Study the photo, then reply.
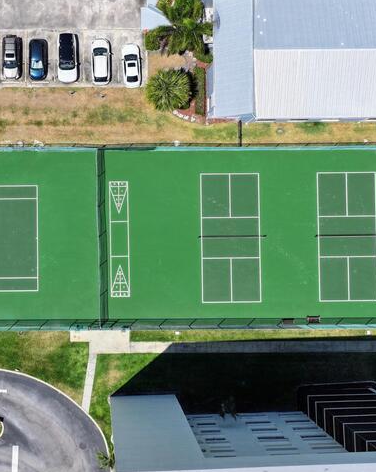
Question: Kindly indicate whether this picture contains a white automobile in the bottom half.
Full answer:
No, I see no white automobile in the bottom half.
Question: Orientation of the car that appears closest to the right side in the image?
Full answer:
Seen from above, the car that appears closest to the right side lies up and down.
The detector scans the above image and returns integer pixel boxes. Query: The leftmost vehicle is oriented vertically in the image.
[0,36,21,84]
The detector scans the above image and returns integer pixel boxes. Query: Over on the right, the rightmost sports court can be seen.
[317,172,376,301]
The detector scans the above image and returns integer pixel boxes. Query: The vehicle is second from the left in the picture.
[26,39,48,82]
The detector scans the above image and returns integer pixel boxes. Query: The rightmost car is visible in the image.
[120,44,141,90]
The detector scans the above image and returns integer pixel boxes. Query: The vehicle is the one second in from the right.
[90,40,112,87]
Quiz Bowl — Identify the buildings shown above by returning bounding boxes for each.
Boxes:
[251,0,376,125]
[111,387,376,472]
